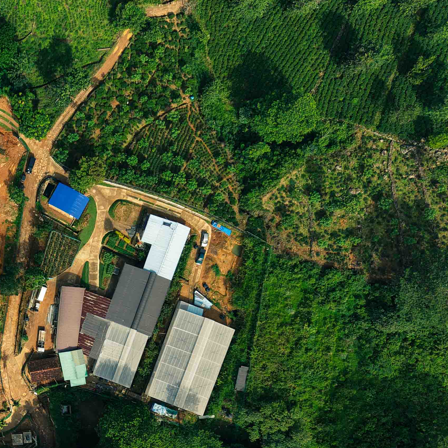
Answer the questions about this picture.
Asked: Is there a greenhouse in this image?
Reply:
Yes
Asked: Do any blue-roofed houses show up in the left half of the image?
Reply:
Yes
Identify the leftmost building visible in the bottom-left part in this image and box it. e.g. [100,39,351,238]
[28,355,64,386]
